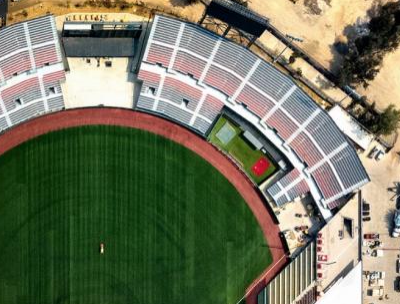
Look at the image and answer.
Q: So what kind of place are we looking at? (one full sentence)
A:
It's a sports ground.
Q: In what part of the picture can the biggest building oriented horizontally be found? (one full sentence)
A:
Look in the top left portion of the view to spot the biggest building oriented horizontally.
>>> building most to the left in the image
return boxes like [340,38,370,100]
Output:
[61,22,143,62]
